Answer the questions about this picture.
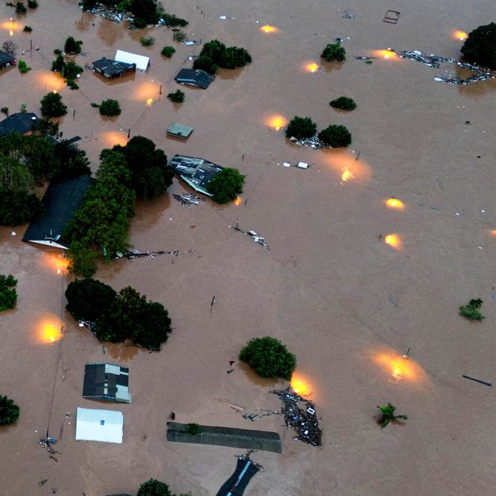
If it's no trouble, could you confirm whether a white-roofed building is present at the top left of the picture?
Yes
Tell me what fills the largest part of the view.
water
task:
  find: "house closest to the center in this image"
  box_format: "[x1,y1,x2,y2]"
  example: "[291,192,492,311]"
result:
[170,155,227,196]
